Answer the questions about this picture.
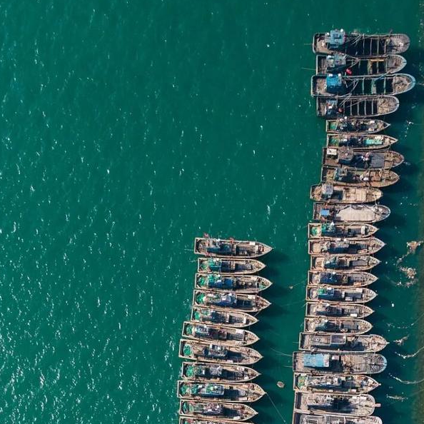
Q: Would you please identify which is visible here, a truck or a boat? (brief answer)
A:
boat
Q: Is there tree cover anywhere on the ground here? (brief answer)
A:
No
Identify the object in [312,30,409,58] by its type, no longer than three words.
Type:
ship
